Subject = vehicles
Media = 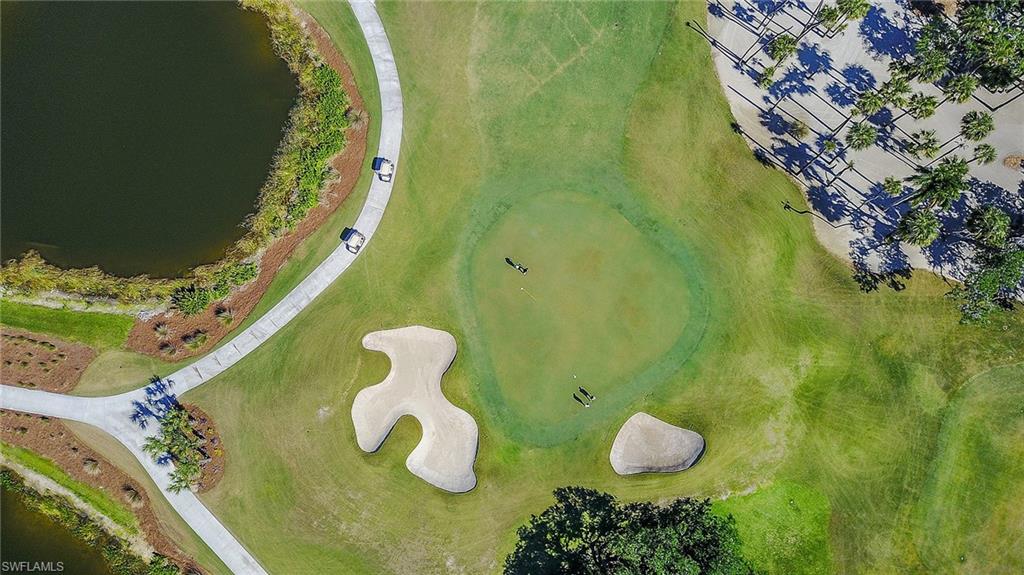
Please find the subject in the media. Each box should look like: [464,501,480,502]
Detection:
[377,158,393,183]
[343,231,365,256]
